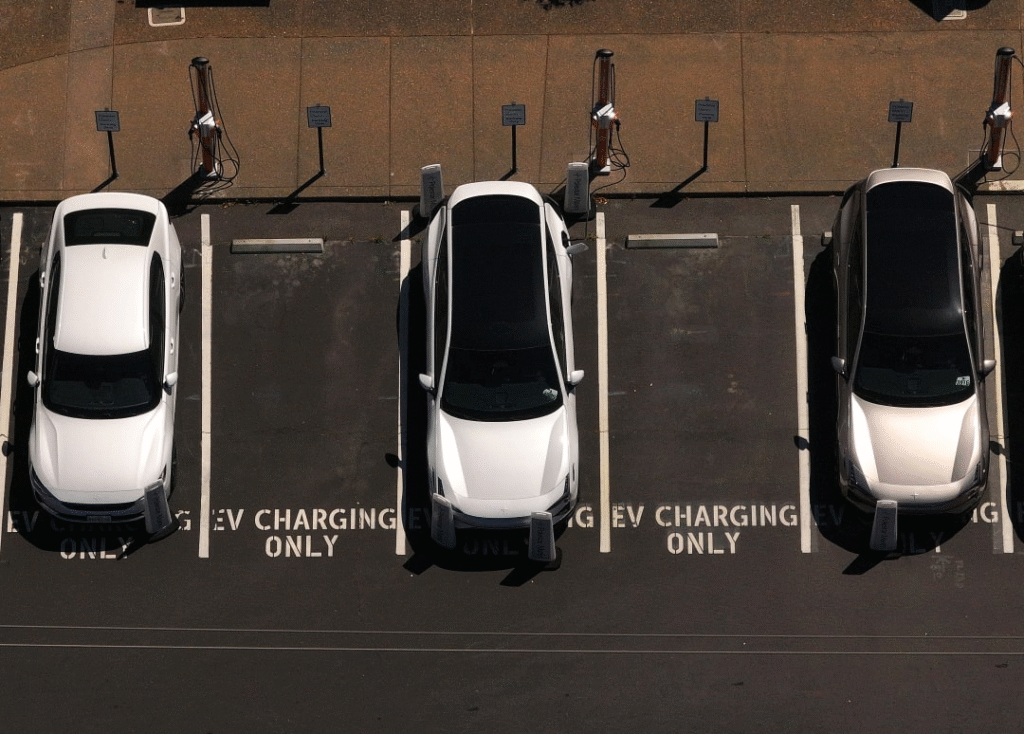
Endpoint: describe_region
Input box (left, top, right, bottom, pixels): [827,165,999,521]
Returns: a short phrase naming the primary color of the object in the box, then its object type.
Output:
black car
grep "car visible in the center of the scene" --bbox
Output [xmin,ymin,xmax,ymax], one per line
[416,181,588,538]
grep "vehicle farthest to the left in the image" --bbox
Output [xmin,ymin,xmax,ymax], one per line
[25,193,181,523]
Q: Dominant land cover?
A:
paved ground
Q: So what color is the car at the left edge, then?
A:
white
